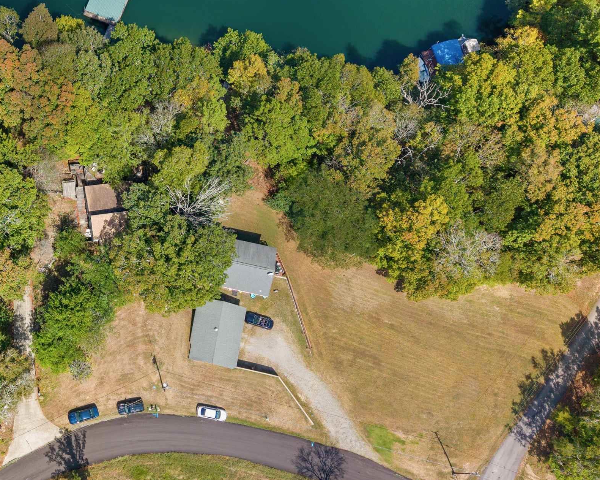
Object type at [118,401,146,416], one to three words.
car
